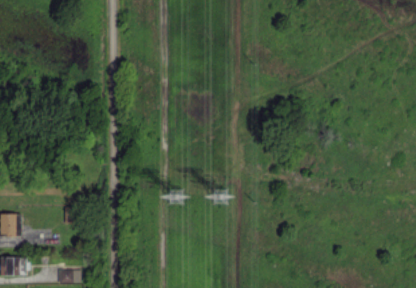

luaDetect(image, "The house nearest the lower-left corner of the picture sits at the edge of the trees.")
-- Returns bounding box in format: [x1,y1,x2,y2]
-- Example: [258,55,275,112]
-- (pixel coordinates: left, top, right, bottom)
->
[0,257,32,276]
